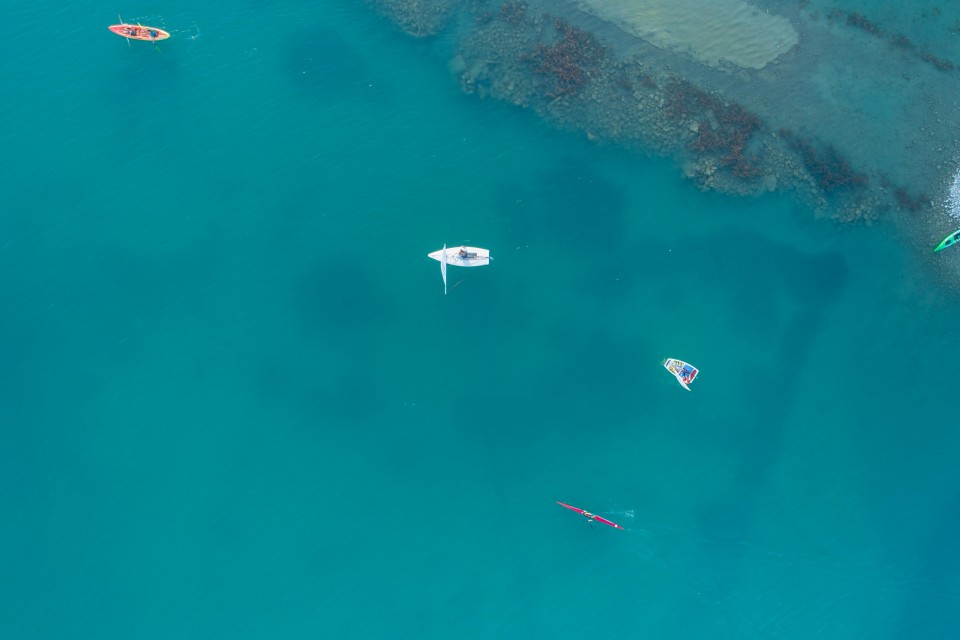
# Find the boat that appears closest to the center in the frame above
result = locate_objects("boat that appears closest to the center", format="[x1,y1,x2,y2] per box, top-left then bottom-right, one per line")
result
[428,245,495,295]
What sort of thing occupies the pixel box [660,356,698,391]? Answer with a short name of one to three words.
boat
